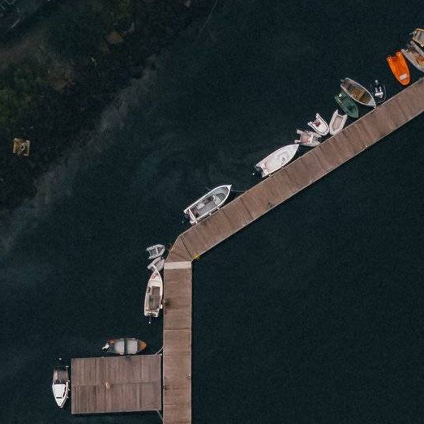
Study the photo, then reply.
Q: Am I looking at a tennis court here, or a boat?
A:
boat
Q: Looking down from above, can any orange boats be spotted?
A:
Yes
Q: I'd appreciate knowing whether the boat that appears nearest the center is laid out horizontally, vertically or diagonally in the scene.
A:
diagonally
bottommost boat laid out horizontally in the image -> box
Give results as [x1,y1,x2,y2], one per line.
[106,337,147,355]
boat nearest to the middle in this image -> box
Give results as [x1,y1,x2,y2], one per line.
[181,184,232,227]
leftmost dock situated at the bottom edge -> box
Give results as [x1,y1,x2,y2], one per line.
[71,354,163,416]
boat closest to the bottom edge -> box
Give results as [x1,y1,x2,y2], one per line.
[52,366,70,410]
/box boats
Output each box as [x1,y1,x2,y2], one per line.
[386,51,410,88]
[106,337,147,355]
[254,143,298,179]
[143,270,162,318]
[295,131,322,150]
[309,115,328,137]
[330,109,347,135]
[372,81,386,103]
[146,243,166,258]
[52,366,70,410]
[410,25,424,48]
[147,258,164,273]
[403,42,424,71]
[181,184,232,227]
[337,75,375,109]
[331,91,359,120]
